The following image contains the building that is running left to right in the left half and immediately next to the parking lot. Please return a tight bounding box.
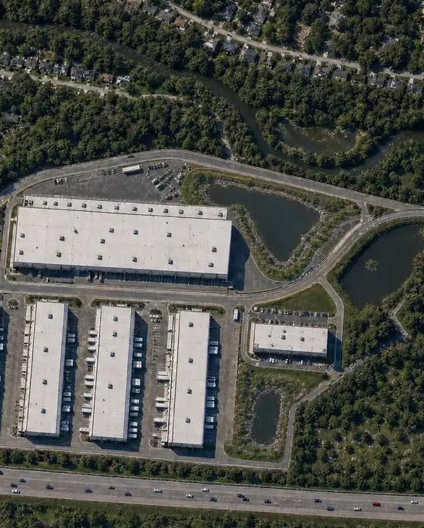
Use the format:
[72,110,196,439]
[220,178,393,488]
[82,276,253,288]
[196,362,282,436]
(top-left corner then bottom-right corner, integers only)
[13,196,232,281]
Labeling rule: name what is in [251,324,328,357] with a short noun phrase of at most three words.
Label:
building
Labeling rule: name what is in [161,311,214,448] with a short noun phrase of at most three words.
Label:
building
